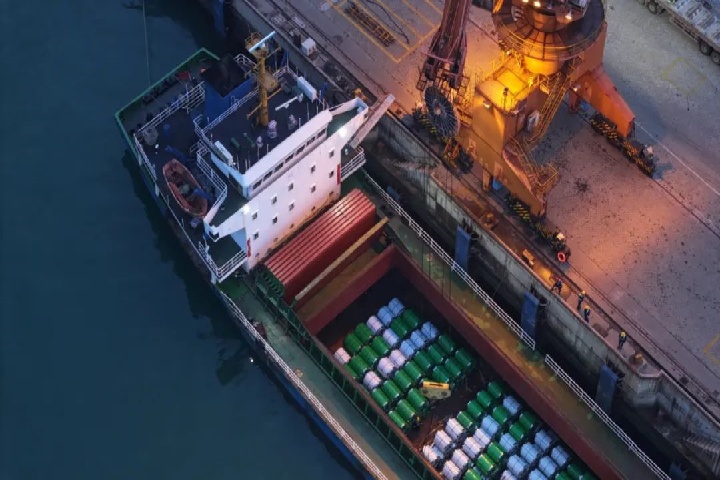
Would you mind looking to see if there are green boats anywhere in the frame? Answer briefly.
No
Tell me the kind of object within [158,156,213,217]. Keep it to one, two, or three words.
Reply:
boat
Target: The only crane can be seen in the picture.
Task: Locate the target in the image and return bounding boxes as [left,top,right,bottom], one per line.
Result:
[409,0,661,379]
